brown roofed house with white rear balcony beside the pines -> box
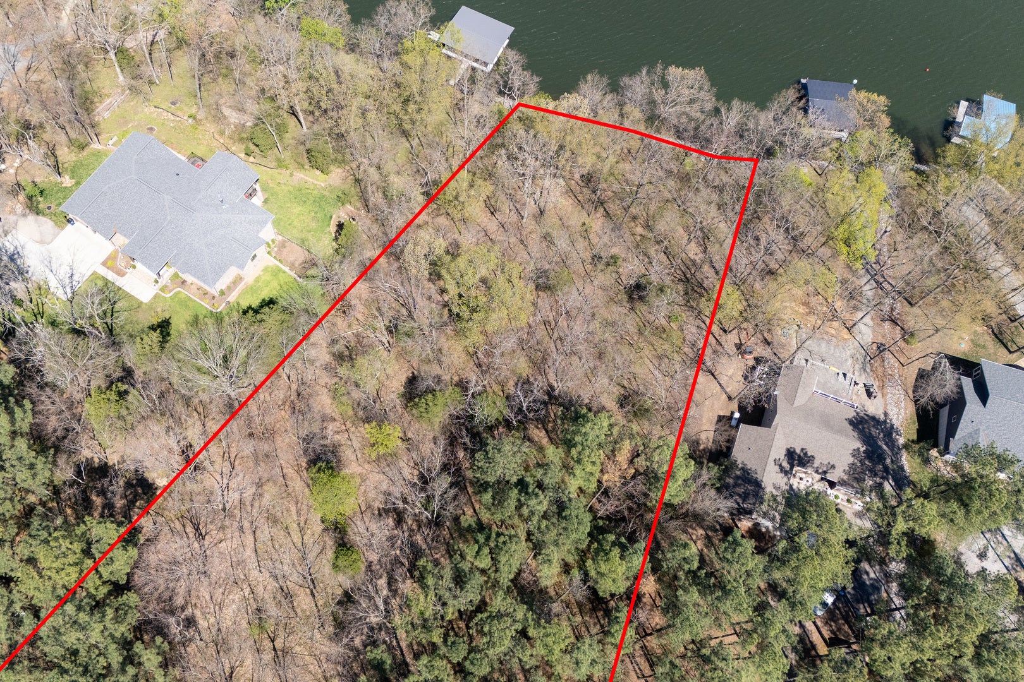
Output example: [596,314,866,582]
[715,363,885,527]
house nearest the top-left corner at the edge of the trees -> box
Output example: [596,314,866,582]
[59,132,276,289]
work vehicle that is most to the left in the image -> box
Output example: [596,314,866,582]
[741,337,757,363]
